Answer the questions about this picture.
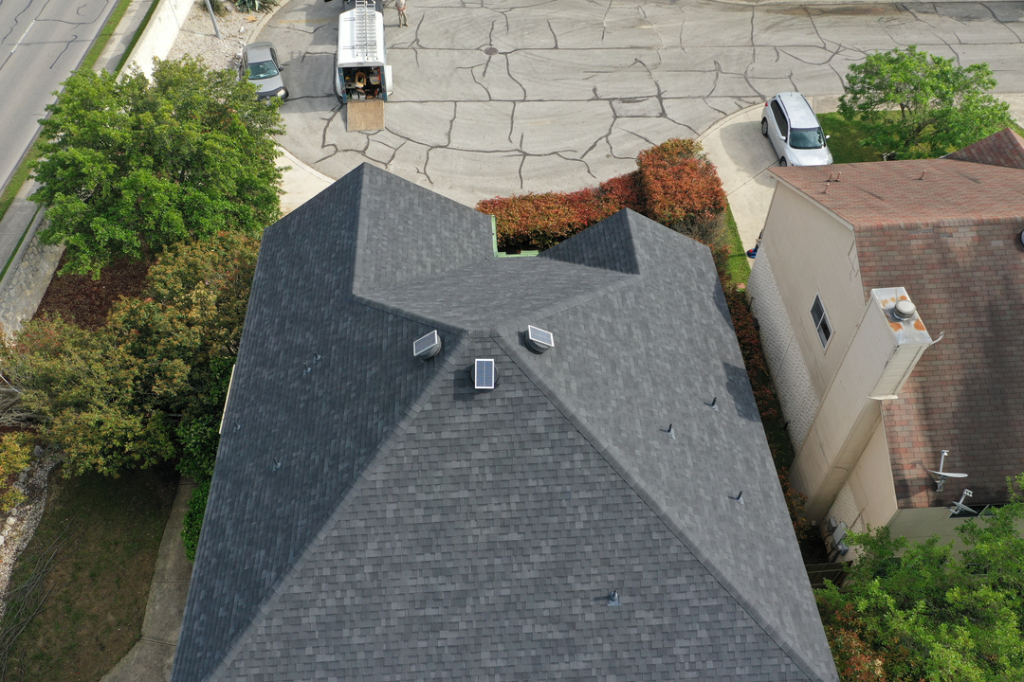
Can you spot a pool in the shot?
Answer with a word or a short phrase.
No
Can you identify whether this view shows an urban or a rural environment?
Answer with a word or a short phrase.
urban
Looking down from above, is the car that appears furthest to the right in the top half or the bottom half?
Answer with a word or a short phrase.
top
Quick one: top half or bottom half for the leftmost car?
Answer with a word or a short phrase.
top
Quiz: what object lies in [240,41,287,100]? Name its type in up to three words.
car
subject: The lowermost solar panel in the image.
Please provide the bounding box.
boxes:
[474,359,494,390]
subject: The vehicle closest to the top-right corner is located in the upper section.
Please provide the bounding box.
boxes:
[759,87,834,168]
